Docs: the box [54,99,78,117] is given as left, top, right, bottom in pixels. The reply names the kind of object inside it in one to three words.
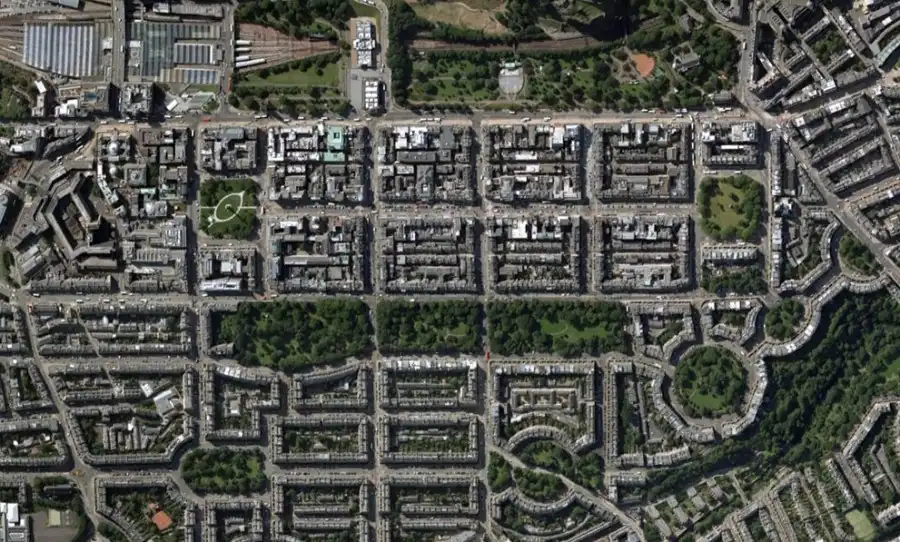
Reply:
house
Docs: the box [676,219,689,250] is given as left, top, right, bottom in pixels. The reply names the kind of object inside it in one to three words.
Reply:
building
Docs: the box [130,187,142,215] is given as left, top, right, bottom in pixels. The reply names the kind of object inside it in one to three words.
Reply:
building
